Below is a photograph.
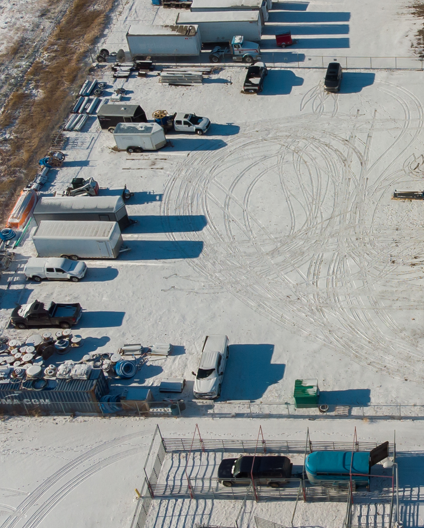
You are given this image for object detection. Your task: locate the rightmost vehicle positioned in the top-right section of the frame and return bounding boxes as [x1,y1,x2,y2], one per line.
[322,60,344,89]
